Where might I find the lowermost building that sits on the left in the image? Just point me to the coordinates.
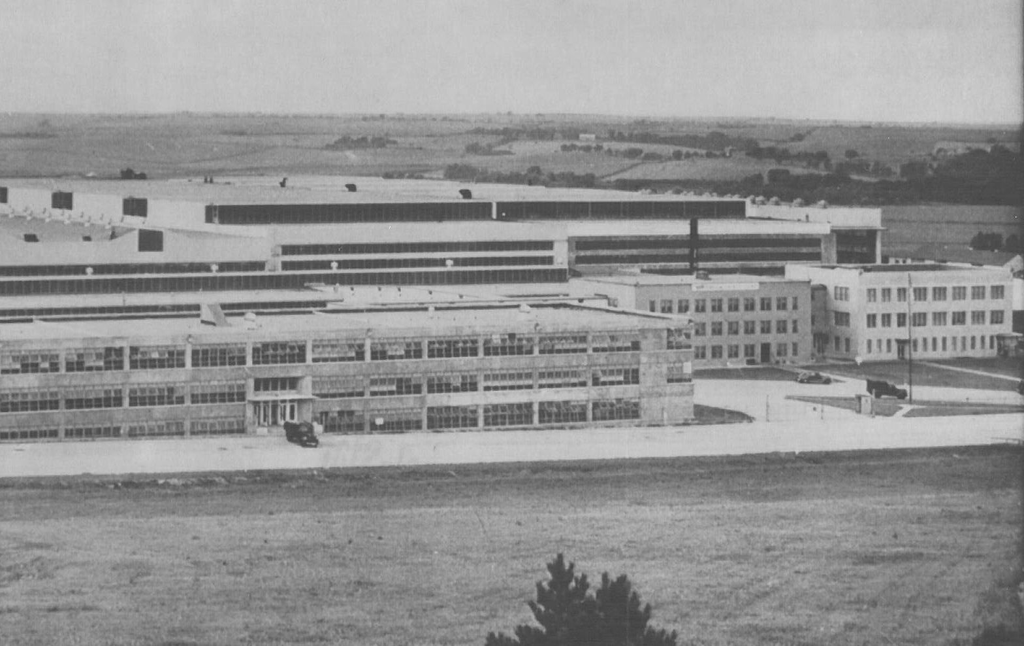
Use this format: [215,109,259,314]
[0,297,694,442]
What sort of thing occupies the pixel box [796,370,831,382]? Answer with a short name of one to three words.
vehicle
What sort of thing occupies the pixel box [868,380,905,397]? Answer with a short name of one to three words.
vehicle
